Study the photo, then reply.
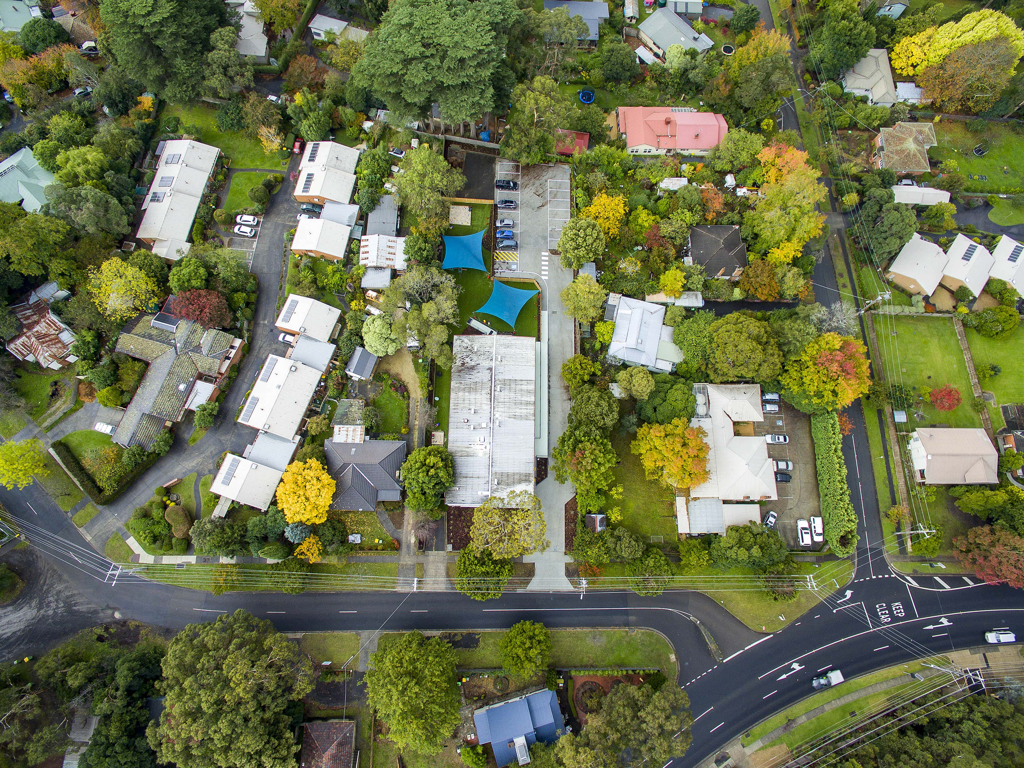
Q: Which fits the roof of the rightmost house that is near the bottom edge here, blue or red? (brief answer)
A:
blue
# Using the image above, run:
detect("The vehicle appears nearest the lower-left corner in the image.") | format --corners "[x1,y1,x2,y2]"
[94,423,118,435]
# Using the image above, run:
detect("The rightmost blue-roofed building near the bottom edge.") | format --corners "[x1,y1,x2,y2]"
[474,690,566,767]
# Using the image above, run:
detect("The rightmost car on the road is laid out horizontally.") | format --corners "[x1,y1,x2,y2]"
[987,631,1014,643]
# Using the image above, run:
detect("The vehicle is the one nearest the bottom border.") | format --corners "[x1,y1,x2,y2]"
[815,671,843,688]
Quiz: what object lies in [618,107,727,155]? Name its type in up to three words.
house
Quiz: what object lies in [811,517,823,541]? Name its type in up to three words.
vehicle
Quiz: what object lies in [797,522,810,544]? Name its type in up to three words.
vehicle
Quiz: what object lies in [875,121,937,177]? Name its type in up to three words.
house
